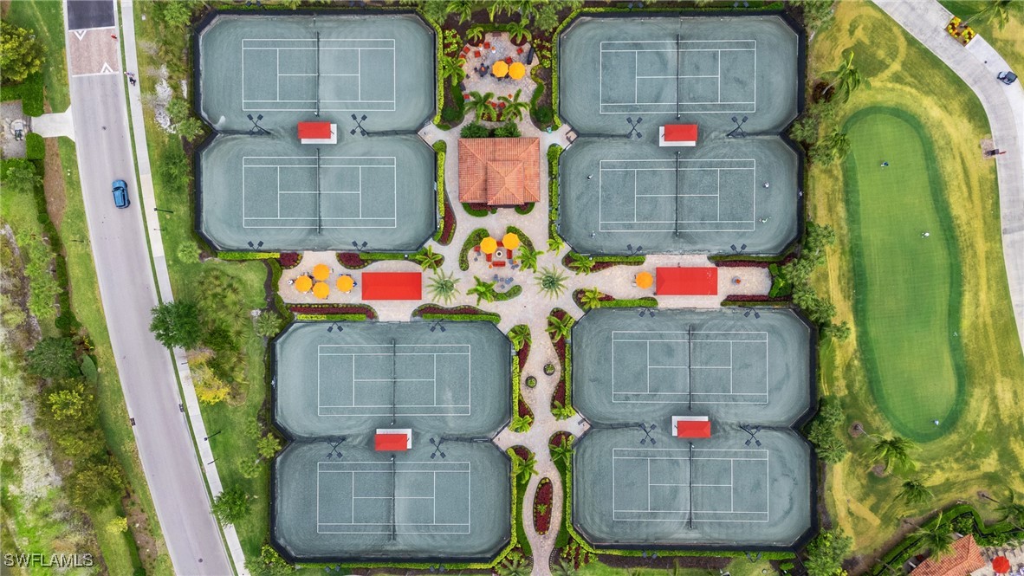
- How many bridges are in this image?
0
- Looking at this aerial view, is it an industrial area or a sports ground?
sports ground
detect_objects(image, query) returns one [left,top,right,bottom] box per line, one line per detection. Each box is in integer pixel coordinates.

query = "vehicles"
[109,179,128,208]
[997,71,1020,84]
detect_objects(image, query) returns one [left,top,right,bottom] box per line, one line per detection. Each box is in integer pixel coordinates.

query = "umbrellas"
[503,233,520,250]
[337,276,354,292]
[480,238,496,254]
[296,275,313,292]
[635,271,652,288]
[988,555,1009,572]
[493,61,508,77]
[313,282,330,299]
[509,63,524,79]
[313,264,330,281]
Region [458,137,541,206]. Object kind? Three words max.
building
